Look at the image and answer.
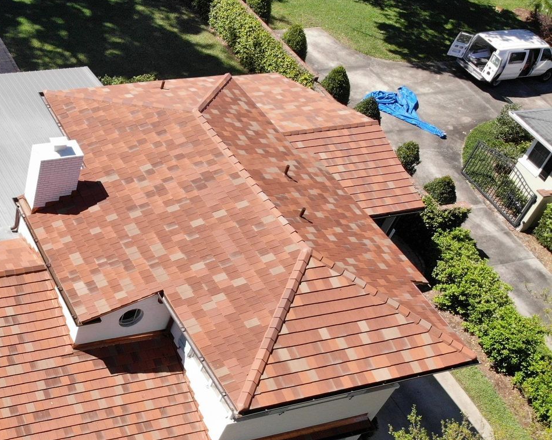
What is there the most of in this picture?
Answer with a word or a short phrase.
buildings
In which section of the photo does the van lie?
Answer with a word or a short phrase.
top right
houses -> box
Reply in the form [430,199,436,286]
[493,105,552,202]
[0,63,483,440]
